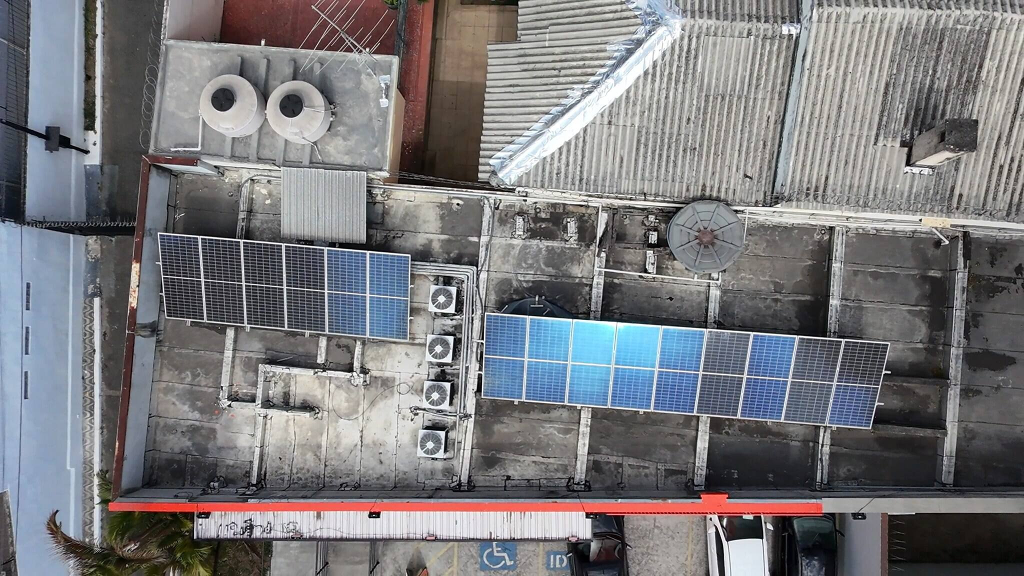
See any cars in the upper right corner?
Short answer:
No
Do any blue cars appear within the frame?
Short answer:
No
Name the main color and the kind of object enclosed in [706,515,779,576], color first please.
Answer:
white car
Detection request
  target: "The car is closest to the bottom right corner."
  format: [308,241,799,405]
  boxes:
[777,513,848,576]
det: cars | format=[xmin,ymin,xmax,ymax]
[777,513,848,576]
[565,515,638,576]
[706,515,779,576]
